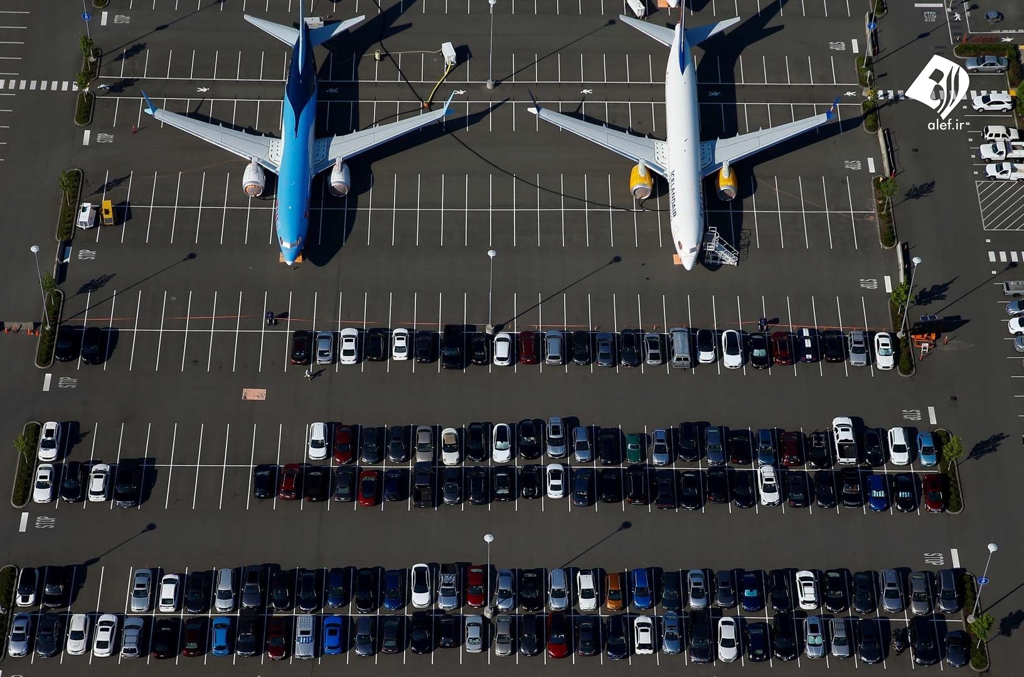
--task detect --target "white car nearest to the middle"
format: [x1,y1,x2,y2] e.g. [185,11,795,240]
[492,333,511,364]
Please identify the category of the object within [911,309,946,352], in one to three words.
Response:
trailer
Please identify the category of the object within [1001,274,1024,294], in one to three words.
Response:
vehicle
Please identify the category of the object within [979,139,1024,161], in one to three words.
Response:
truck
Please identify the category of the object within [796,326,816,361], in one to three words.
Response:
car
